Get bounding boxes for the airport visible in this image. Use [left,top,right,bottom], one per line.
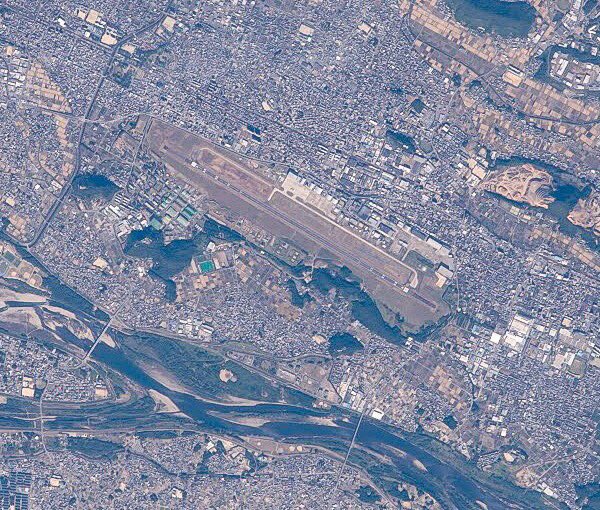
[147,117,460,331]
